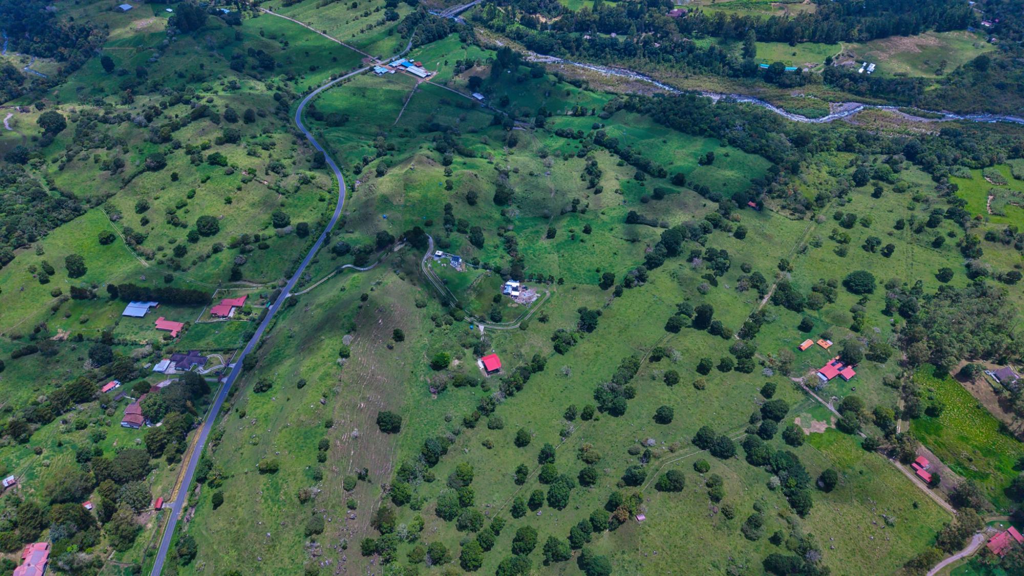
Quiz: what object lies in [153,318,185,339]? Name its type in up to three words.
house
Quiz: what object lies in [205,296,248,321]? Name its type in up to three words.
house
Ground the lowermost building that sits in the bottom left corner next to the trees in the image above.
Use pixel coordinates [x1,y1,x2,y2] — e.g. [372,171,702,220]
[20,543,55,576]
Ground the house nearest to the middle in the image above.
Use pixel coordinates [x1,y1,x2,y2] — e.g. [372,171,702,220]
[500,280,522,302]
